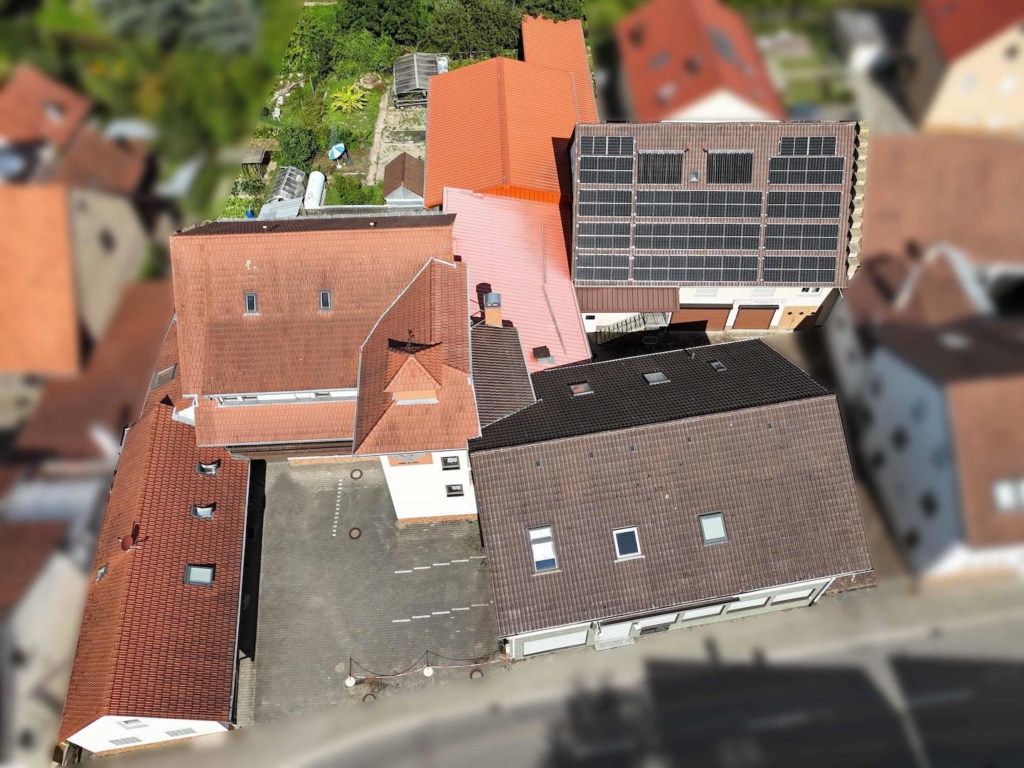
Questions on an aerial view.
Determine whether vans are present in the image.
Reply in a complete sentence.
No, I can see no van in this picture.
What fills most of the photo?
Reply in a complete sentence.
What you mostly see from above here is buildings.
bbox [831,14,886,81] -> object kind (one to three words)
building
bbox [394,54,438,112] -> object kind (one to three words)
greenhouse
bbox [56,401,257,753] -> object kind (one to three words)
house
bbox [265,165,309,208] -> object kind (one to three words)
greenhouse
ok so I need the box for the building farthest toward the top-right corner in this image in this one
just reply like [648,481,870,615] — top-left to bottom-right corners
[894,0,1024,106]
